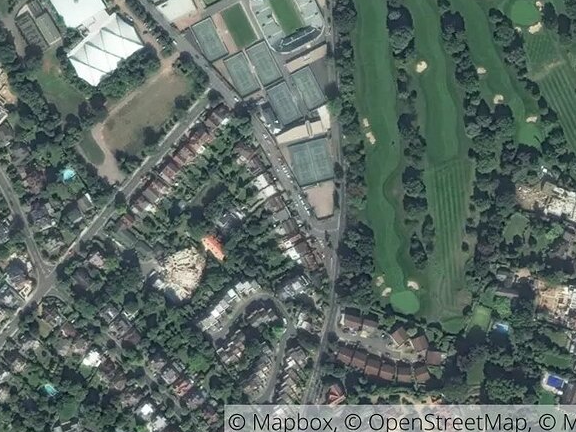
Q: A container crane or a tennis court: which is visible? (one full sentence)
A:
I can see a tennis court in this picture.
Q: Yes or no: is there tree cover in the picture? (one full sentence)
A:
Yes, tree cover can be seen from above here.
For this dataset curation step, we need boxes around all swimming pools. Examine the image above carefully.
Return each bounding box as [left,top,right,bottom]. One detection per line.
[44,383,56,395]
[61,168,76,180]
[546,374,564,390]
[494,321,510,333]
